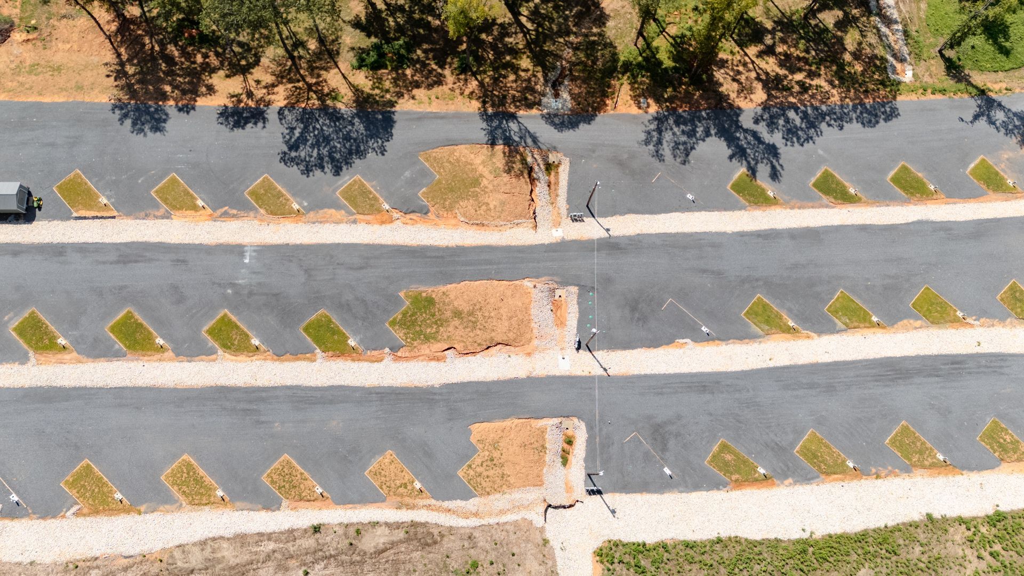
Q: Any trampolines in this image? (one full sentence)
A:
No, the photo shows no trampoline.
